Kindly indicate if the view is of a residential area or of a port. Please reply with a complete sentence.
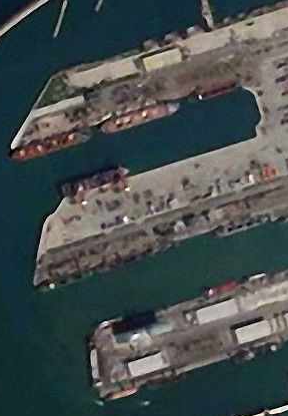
The area seen from above is a port.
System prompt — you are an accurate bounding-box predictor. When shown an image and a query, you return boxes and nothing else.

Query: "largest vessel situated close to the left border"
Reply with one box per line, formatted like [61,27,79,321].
[9,134,91,159]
